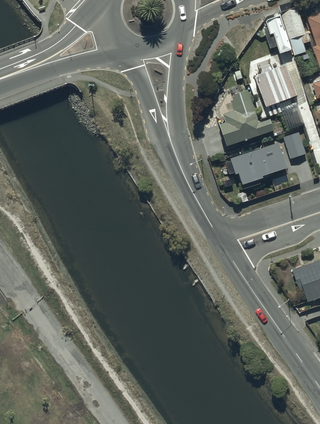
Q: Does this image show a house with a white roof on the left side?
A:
No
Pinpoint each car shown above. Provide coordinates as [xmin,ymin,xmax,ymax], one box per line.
[242,239,256,248]
[176,42,183,56]
[220,0,236,9]
[192,173,202,189]
[256,308,268,324]
[261,232,277,240]
[179,5,186,21]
